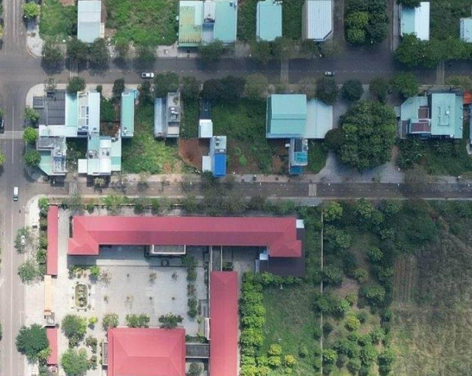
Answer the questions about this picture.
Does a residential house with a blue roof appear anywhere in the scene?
Yes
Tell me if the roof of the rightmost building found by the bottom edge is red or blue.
red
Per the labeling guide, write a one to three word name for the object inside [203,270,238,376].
building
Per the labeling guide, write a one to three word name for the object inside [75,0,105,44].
house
